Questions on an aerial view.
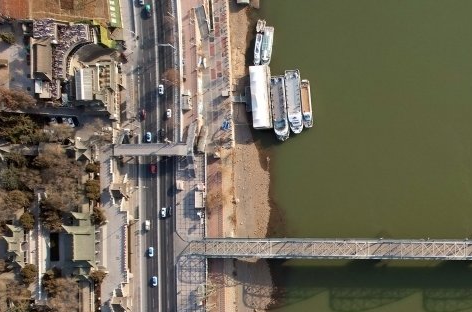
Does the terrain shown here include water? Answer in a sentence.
Yes, there's water in this view.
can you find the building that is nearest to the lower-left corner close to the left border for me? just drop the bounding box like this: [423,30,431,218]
[0,223,28,268]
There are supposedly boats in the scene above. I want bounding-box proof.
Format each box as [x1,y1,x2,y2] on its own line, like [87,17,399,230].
[260,26,272,65]
[254,33,262,65]
[284,69,302,133]
[300,80,313,127]
[270,74,289,141]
